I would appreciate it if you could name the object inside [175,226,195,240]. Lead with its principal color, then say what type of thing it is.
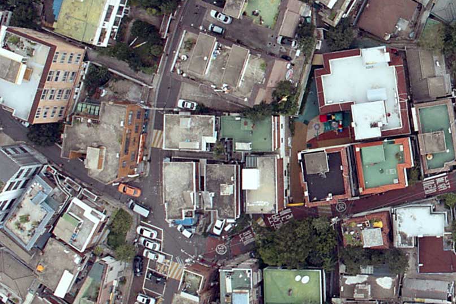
white vehicle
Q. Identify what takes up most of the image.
buildings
